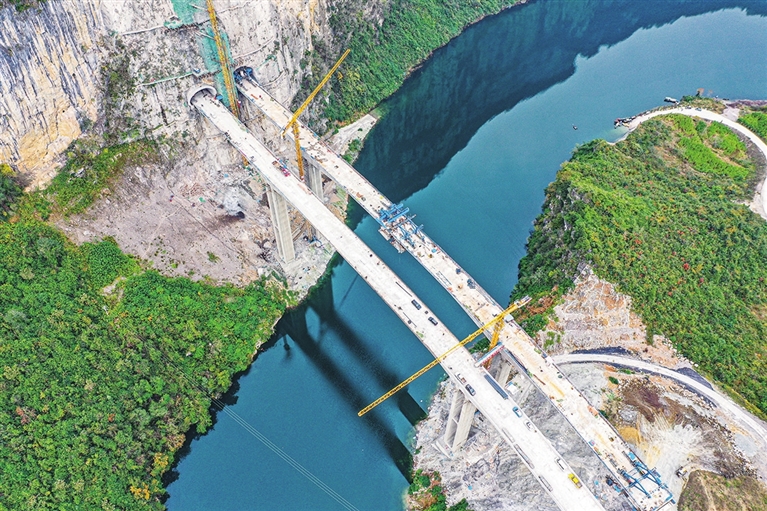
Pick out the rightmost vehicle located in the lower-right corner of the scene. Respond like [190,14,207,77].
[672,460,693,476]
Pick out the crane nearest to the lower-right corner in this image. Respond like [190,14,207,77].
[358,290,527,416]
